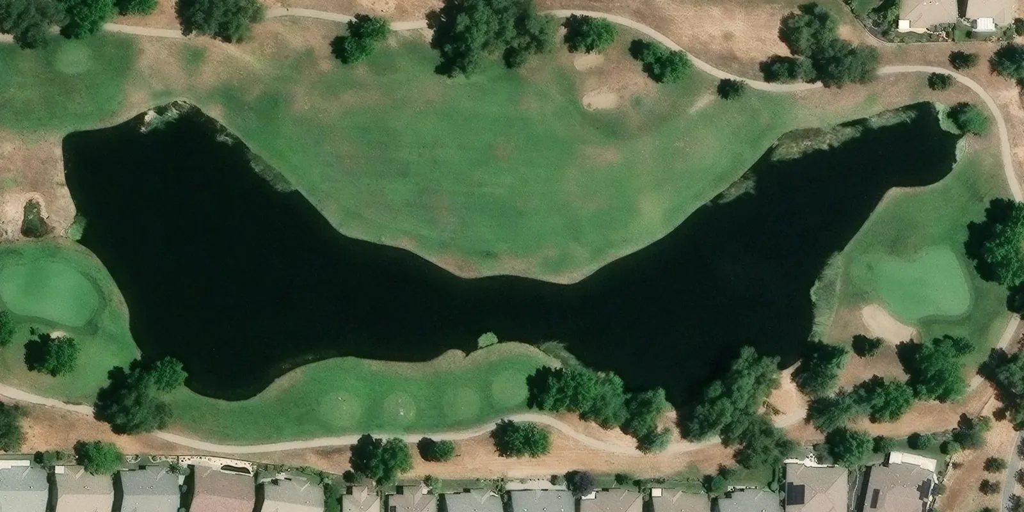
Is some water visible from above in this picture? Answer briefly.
Yes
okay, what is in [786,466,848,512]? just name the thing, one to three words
house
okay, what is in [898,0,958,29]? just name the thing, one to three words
house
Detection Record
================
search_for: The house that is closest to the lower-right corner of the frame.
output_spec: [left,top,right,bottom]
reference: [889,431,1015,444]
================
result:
[857,460,932,512]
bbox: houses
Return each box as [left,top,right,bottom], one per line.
[56,466,113,512]
[121,466,181,512]
[857,460,932,512]
[445,488,505,512]
[580,489,643,512]
[510,489,577,512]
[718,490,785,512]
[898,0,958,29]
[190,467,255,512]
[651,489,712,512]
[786,466,848,512]
[342,486,380,512]
[260,475,324,512]
[0,466,49,512]
[389,486,437,512]
[966,0,1018,26]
